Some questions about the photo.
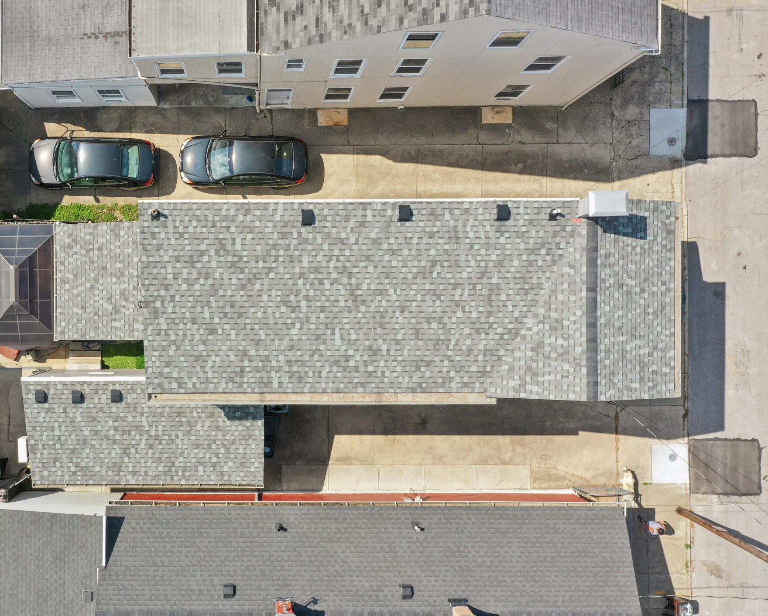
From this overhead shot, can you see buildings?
Yes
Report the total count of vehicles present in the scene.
2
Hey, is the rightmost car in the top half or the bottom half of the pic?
top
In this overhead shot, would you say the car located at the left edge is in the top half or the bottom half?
top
